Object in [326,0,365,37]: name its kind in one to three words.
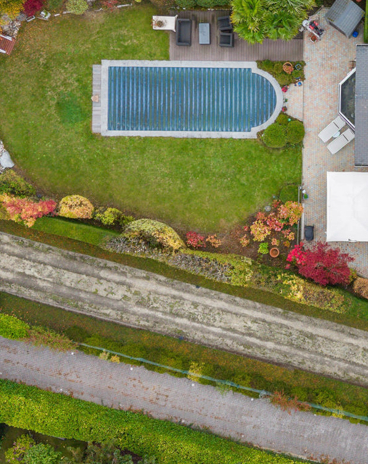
shed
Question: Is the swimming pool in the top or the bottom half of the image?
top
